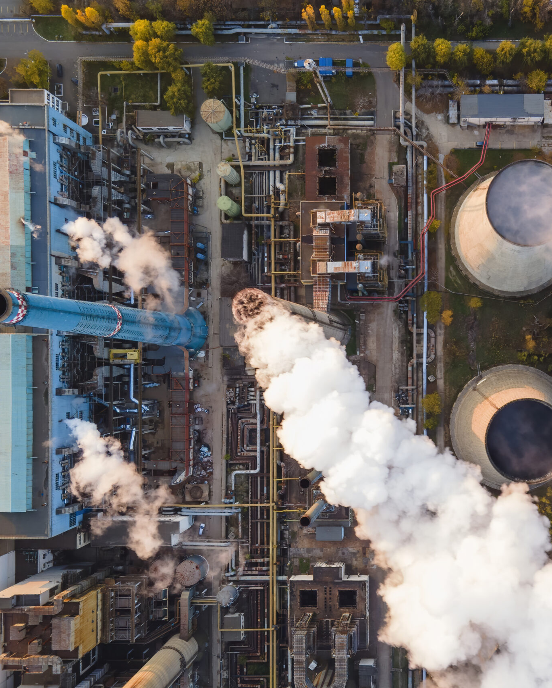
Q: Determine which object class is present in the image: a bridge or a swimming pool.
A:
bridge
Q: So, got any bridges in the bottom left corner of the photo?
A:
No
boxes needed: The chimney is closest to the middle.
[231,291,354,351]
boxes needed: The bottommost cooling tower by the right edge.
[449,364,552,493]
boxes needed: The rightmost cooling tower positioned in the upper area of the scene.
[450,160,552,298]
